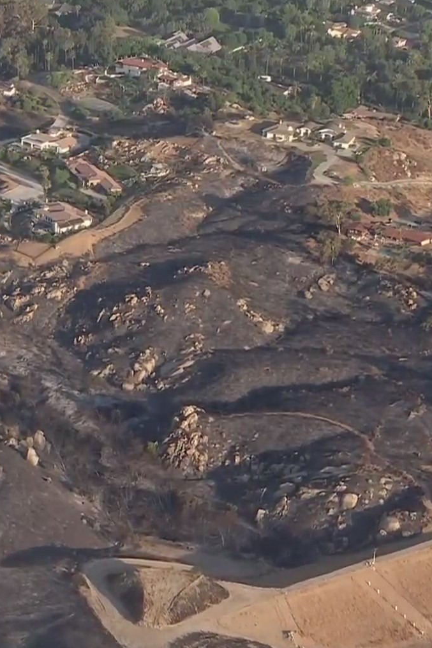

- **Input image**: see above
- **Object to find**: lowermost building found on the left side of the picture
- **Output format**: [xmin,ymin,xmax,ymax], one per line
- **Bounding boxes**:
[37,199,93,236]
